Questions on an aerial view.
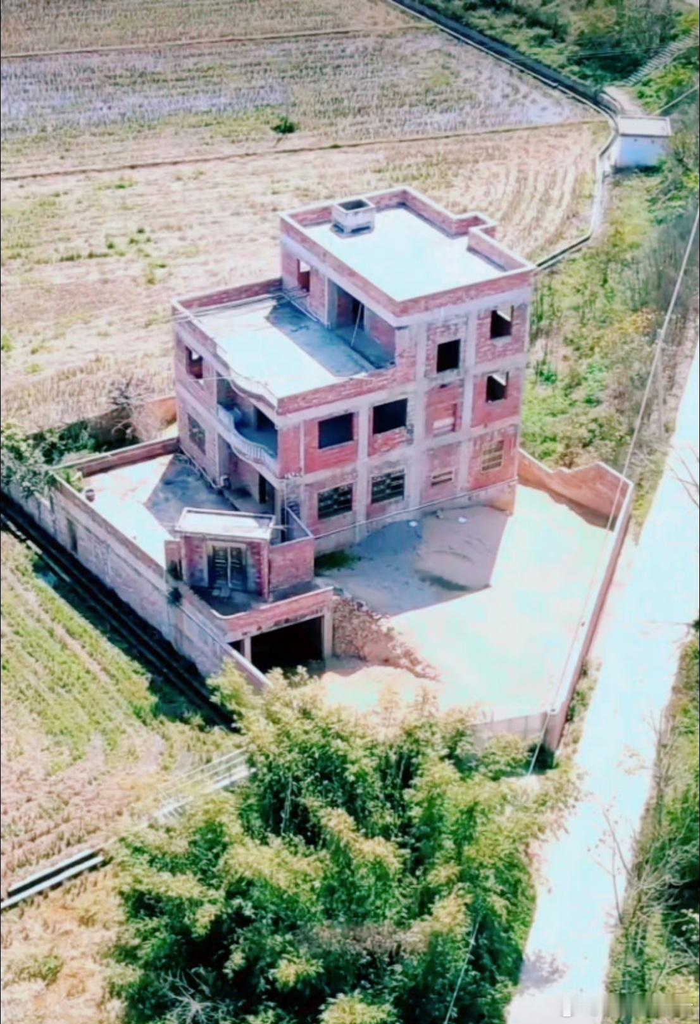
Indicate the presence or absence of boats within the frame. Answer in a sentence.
No, no boat is visible in the scene.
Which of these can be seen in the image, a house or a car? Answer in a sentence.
Visible in the photo is a house.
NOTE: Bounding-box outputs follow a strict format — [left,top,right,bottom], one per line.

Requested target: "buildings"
[173,189,534,564]
[610,114,670,176]
[179,578,334,674]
